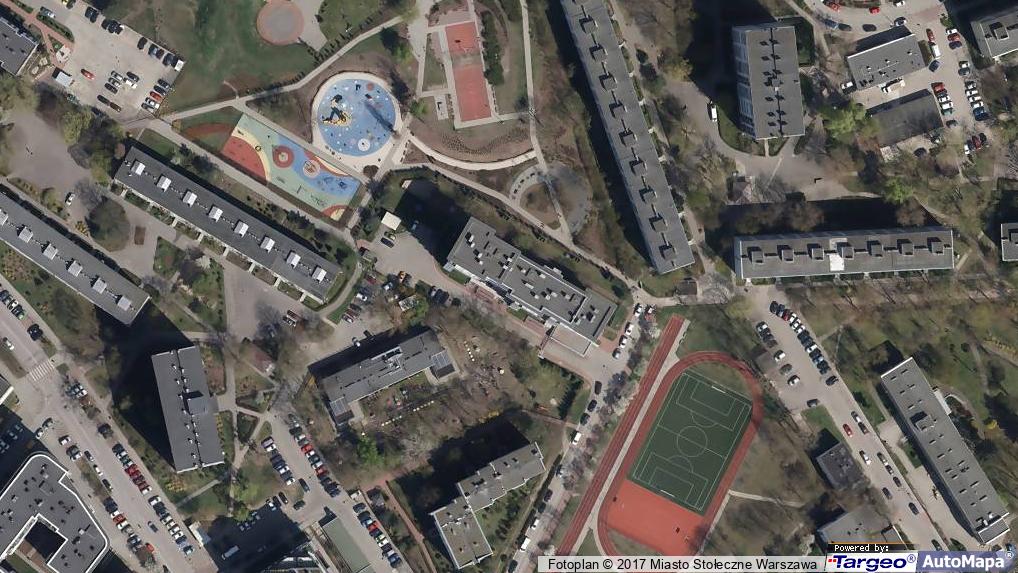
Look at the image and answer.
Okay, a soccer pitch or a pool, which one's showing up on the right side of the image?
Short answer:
soccer pitch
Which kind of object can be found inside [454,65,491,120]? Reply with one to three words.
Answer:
sports court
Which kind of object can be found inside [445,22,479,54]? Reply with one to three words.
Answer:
sports court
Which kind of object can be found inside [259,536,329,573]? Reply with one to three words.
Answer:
building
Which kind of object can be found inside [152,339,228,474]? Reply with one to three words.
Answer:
building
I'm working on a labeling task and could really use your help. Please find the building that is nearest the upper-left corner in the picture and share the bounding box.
[0,15,38,75]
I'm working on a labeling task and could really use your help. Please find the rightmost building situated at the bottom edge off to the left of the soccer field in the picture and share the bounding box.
[430,438,546,568]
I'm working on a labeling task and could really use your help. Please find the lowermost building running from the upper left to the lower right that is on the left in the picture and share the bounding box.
[322,515,379,573]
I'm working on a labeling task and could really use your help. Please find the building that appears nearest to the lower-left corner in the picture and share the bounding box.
[0,450,113,573]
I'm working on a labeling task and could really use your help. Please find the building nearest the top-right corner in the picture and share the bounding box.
[968,5,1018,59]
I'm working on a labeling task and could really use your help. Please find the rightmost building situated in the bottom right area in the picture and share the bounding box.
[875,355,1010,545]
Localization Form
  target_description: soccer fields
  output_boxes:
[628,369,755,513]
